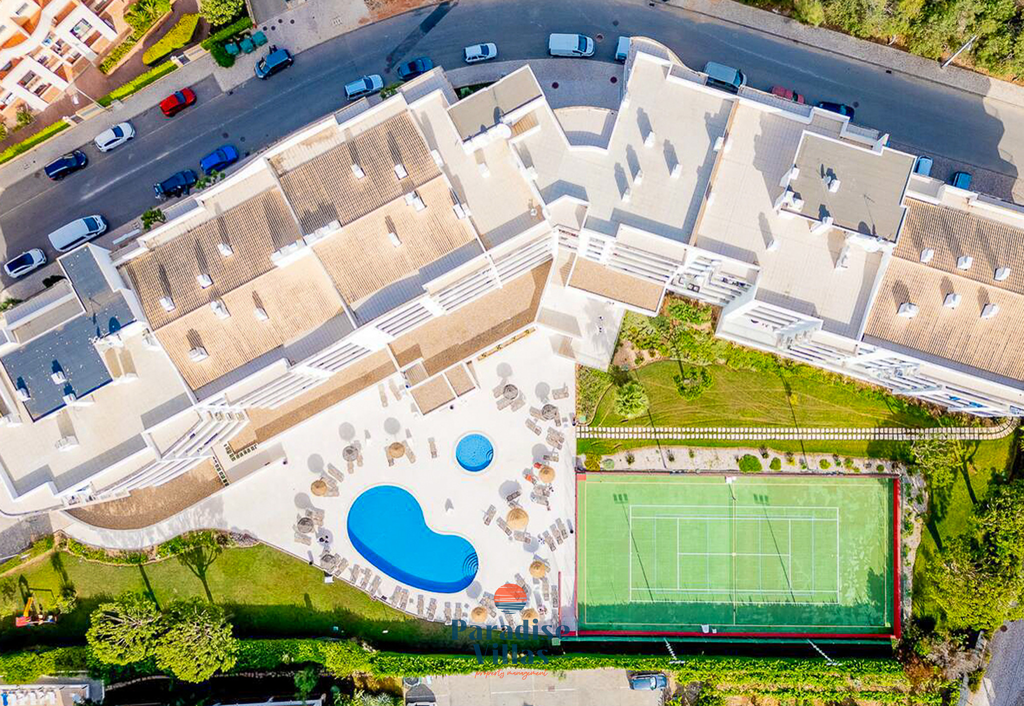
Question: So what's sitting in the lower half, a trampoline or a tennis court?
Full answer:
Looking in the lower half, you will find a tennis court.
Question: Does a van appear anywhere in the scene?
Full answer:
Yes, a van is visible in the scene.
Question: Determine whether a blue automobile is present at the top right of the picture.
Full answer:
Yes, the scene does show a blue automobile at the top right of the picture.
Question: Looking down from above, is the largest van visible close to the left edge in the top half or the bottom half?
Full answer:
The largest van visible close to the left edge sits in the top half of the picture.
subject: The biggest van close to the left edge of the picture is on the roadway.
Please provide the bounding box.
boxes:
[49,215,109,254]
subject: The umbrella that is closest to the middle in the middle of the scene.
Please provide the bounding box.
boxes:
[501,385,519,401]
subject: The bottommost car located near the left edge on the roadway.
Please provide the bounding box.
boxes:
[5,249,48,278]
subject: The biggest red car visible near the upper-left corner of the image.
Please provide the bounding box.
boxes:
[159,89,197,117]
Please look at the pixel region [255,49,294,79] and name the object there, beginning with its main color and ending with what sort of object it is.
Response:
blue car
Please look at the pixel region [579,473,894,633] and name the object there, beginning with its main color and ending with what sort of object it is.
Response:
green tennis court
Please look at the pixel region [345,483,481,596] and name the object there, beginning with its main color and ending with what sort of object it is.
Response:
blue swimming pool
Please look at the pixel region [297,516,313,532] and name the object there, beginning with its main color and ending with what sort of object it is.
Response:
gray umbrella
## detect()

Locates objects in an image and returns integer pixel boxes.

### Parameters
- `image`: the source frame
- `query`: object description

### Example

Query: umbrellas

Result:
[501,385,519,401]
[471,606,488,622]
[389,441,405,458]
[529,560,546,577]
[311,478,328,495]
[297,516,313,532]
[537,465,555,482]
[541,404,557,421]
[319,552,336,569]
[342,445,358,462]
[506,507,528,529]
